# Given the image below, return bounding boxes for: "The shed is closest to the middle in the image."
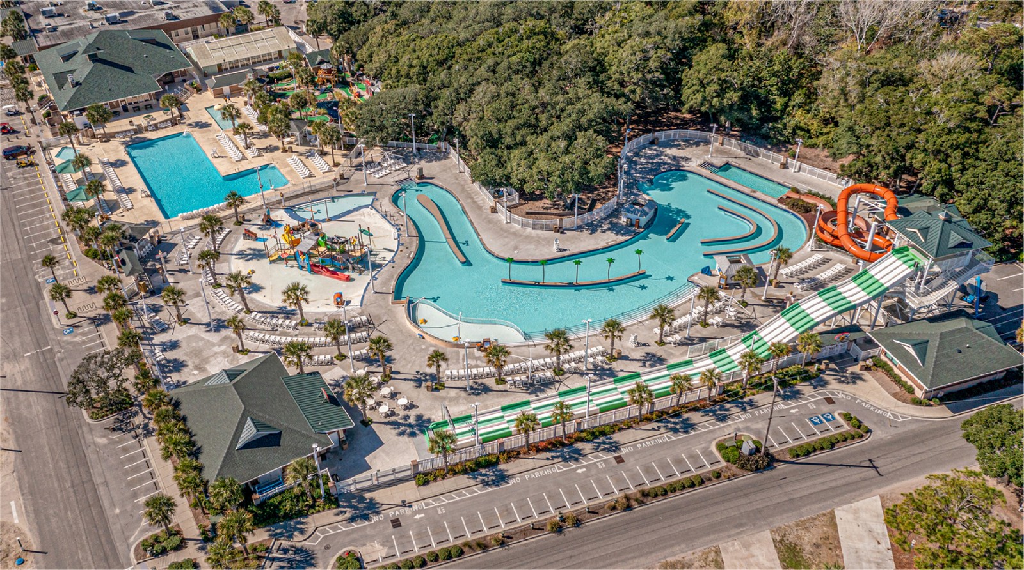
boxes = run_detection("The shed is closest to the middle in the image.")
[623,196,657,228]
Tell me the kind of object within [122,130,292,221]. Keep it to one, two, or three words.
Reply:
swimming pool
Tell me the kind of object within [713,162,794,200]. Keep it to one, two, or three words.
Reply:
swimming pool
